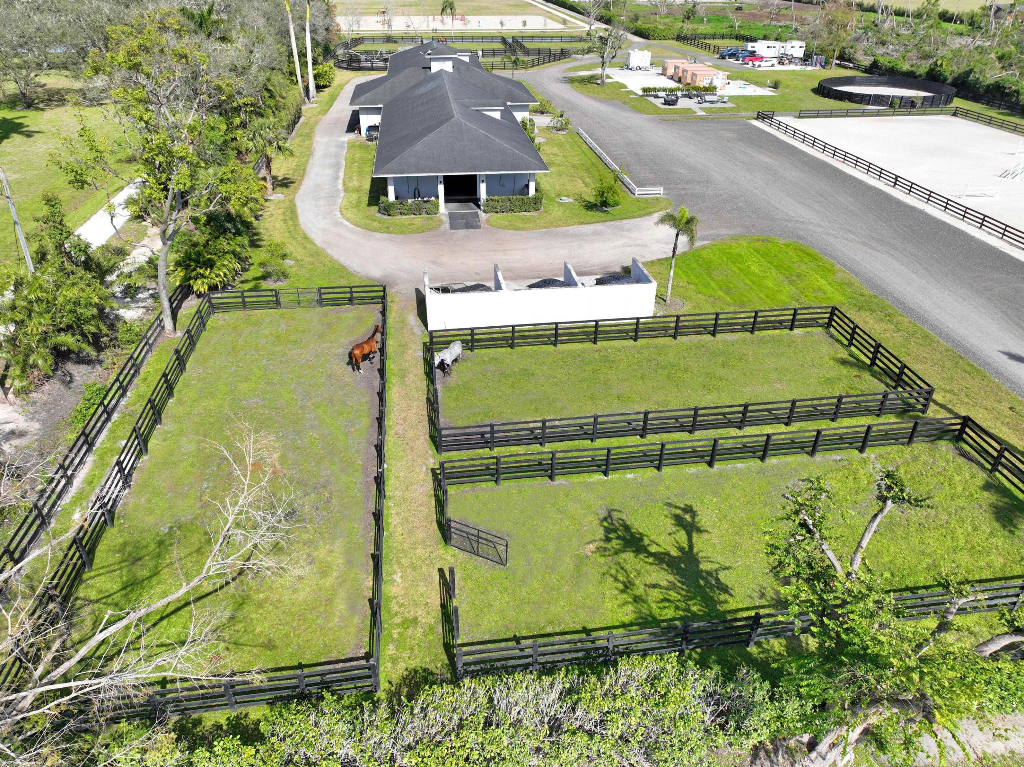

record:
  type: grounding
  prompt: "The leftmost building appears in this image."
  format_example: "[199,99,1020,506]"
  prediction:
[348,39,550,212]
